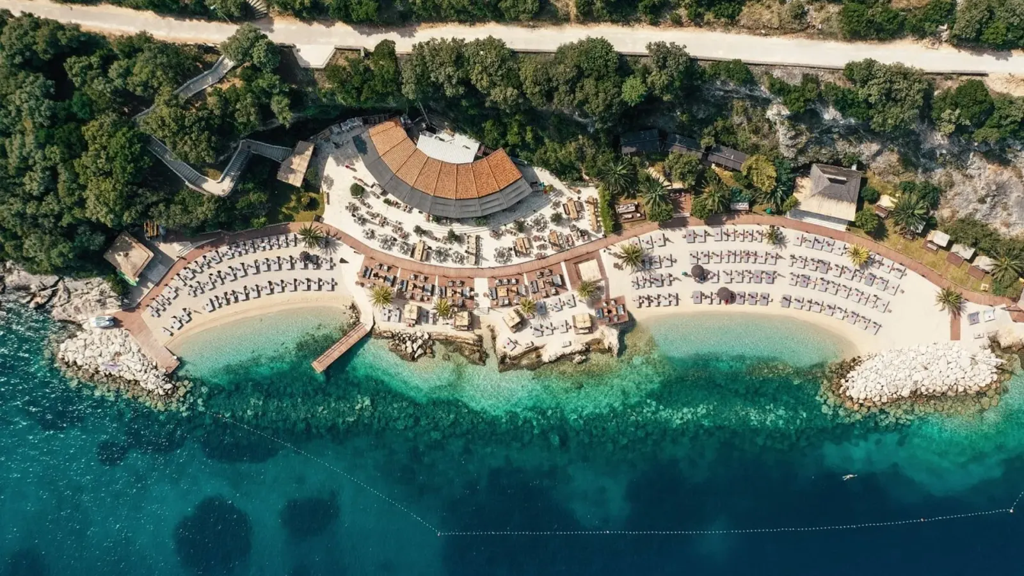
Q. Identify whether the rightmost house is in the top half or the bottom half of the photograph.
top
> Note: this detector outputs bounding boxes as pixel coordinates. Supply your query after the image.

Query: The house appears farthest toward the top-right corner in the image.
[783,164,862,231]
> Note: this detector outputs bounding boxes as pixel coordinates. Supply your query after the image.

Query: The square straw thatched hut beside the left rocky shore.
[104,231,157,282]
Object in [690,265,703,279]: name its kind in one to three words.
umbrella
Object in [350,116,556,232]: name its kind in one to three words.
building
